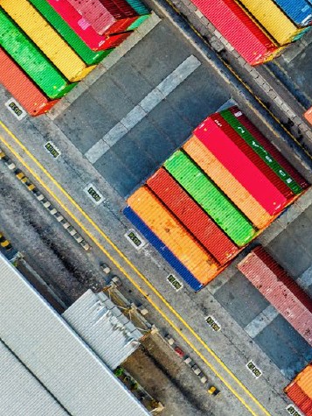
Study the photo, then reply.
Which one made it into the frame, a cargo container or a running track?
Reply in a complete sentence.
The image shows a cargo container.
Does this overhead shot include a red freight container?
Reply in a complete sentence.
Yes, the photo shows a red freight container.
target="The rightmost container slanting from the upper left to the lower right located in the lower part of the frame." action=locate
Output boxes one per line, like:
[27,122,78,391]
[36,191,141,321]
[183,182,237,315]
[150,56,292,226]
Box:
[285,380,312,416]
